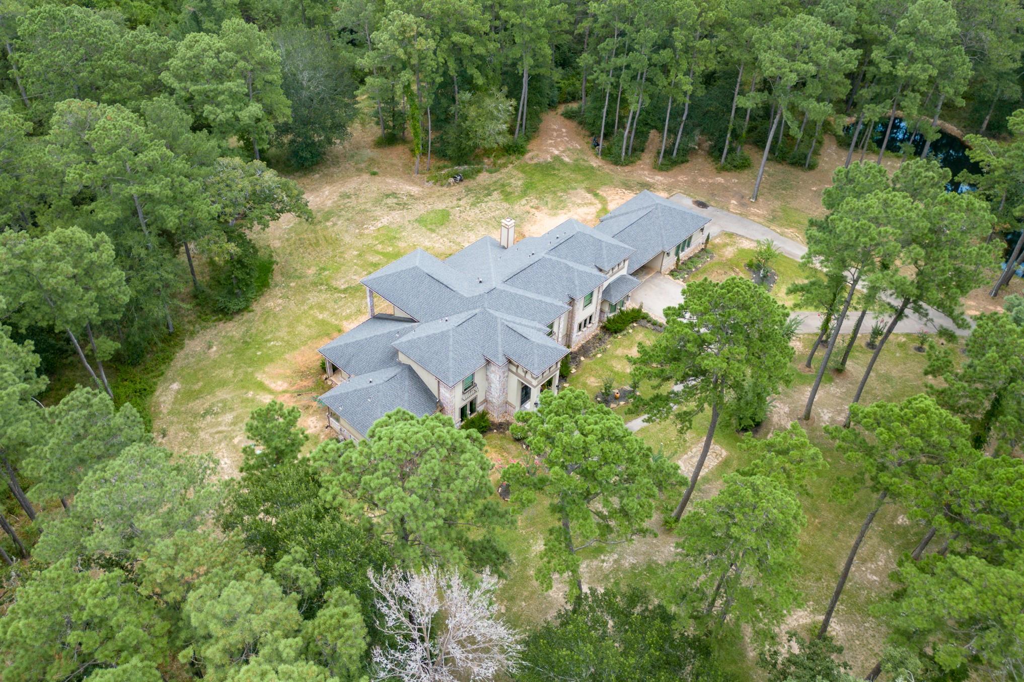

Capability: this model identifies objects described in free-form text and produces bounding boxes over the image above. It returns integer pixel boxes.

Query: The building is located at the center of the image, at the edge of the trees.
[317,189,711,461]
